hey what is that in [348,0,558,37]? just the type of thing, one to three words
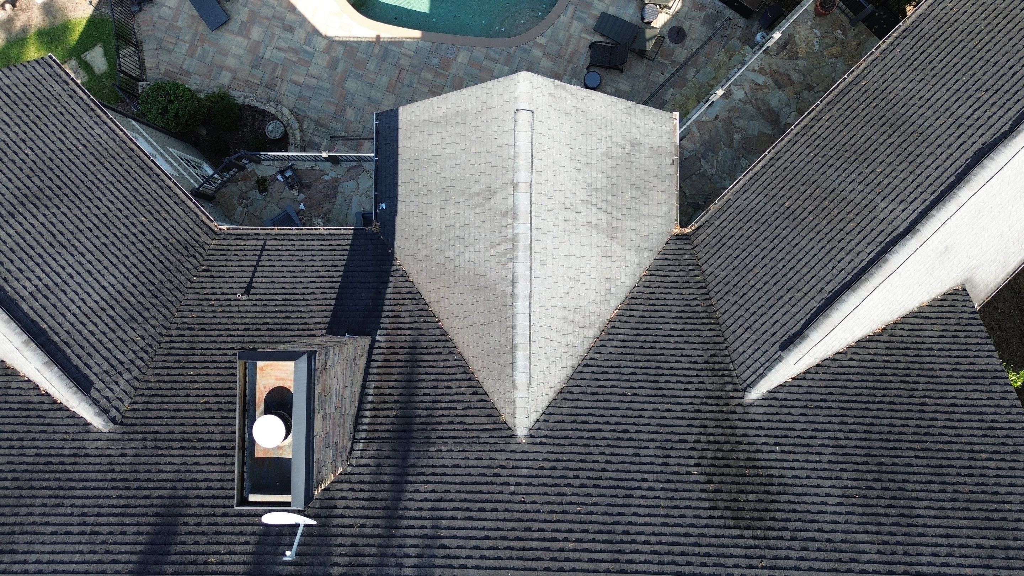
swimming pool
